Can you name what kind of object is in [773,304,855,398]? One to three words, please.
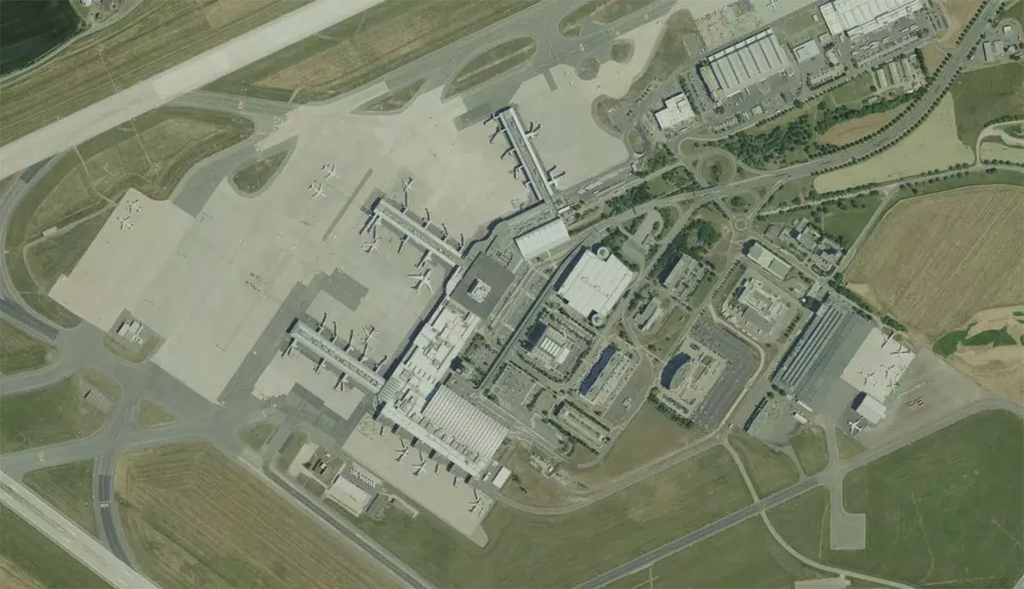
hangar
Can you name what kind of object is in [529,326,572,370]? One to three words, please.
building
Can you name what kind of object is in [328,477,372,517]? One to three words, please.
building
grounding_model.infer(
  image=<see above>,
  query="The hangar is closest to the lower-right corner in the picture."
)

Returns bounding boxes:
[857,394,887,424]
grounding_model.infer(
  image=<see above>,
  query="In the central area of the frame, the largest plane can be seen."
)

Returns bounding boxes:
[412,270,431,291]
